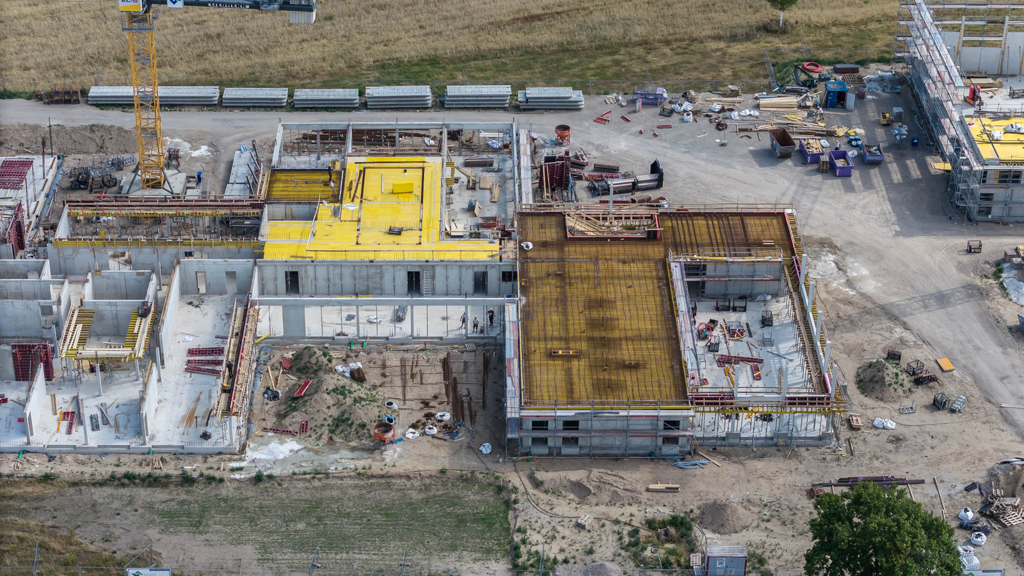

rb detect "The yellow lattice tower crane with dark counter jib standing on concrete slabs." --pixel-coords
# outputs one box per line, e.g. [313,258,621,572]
[101,0,307,188]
